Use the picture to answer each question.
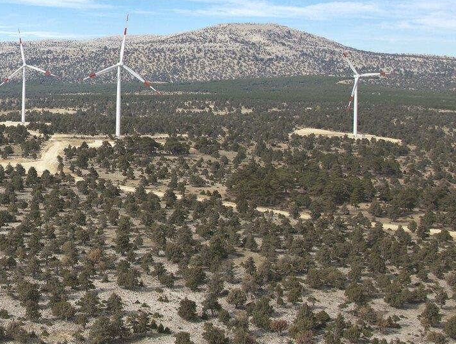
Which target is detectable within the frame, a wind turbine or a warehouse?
wind turbine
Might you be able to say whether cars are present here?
No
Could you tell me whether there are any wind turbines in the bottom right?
No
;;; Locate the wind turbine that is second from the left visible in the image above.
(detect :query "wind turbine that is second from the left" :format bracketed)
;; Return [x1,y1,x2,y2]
[80,18,157,138]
